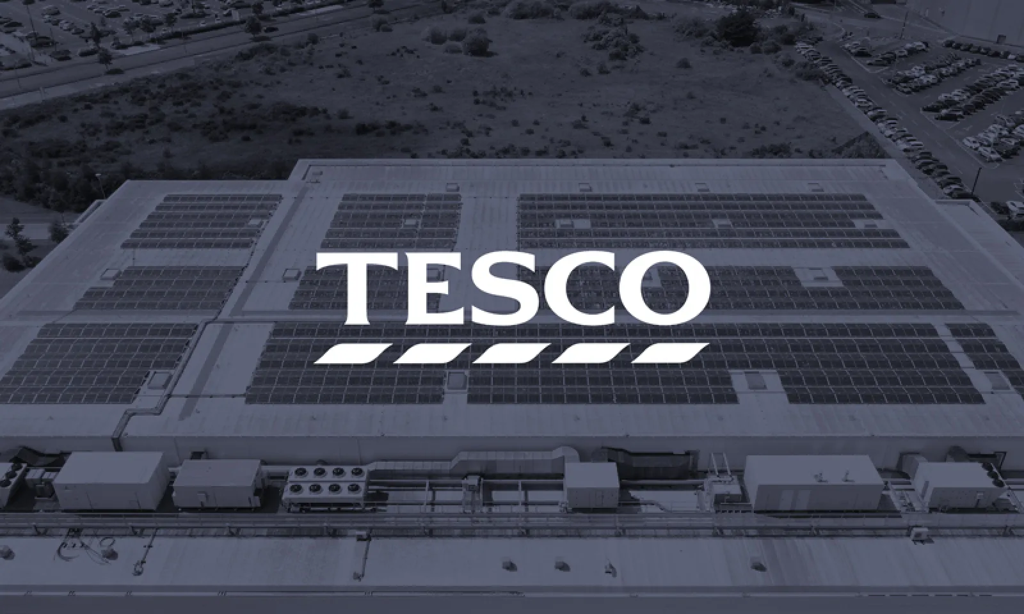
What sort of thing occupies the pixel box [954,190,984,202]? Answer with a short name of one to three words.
vehicle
